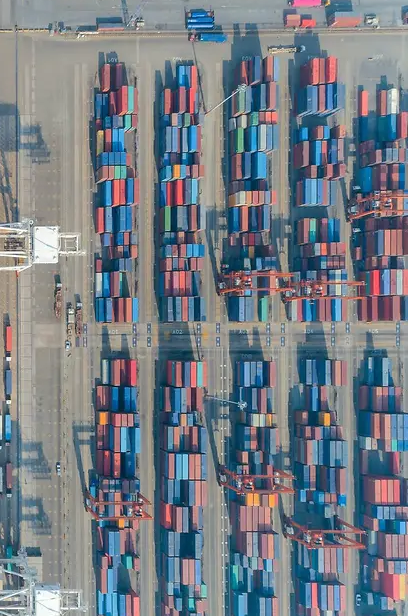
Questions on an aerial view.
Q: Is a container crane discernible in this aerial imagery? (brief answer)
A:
Yes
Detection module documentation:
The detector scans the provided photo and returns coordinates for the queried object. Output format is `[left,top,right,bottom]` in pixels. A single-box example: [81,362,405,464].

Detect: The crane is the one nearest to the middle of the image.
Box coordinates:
[213,271,295,294]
